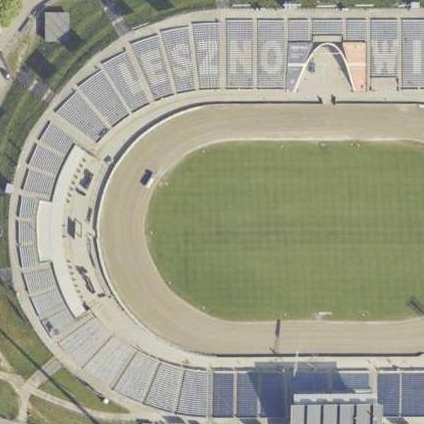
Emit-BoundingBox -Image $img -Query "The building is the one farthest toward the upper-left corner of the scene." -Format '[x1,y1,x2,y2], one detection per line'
[45,13,69,43]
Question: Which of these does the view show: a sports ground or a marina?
sports ground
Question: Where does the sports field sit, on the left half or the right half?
right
